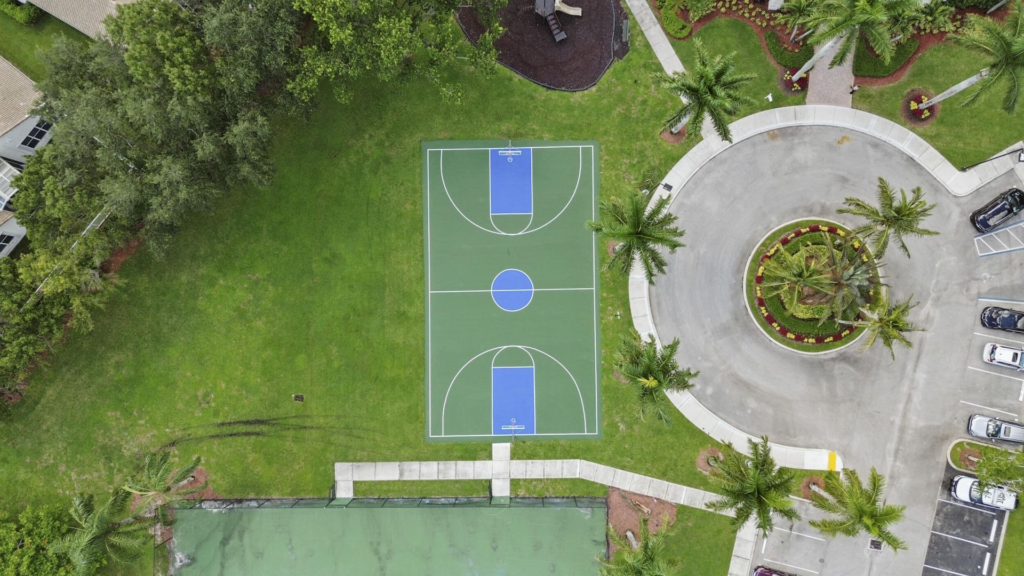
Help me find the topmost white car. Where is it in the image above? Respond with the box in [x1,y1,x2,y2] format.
[982,343,1024,374]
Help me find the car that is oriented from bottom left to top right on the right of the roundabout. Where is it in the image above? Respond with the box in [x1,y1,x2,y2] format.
[973,189,1024,232]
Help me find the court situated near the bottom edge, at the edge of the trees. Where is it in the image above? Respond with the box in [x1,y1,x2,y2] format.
[171,496,606,576]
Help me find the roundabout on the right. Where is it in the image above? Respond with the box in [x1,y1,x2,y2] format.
[654,131,963,440]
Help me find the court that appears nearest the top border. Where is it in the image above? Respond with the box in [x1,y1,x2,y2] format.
[422,140,602,442]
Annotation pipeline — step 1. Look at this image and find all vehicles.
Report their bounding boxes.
[973,189,1024,232]
[982,343,1024,374]
[954,475,1019,510]
[981,306,1024,333]
[968,417,1024,448]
